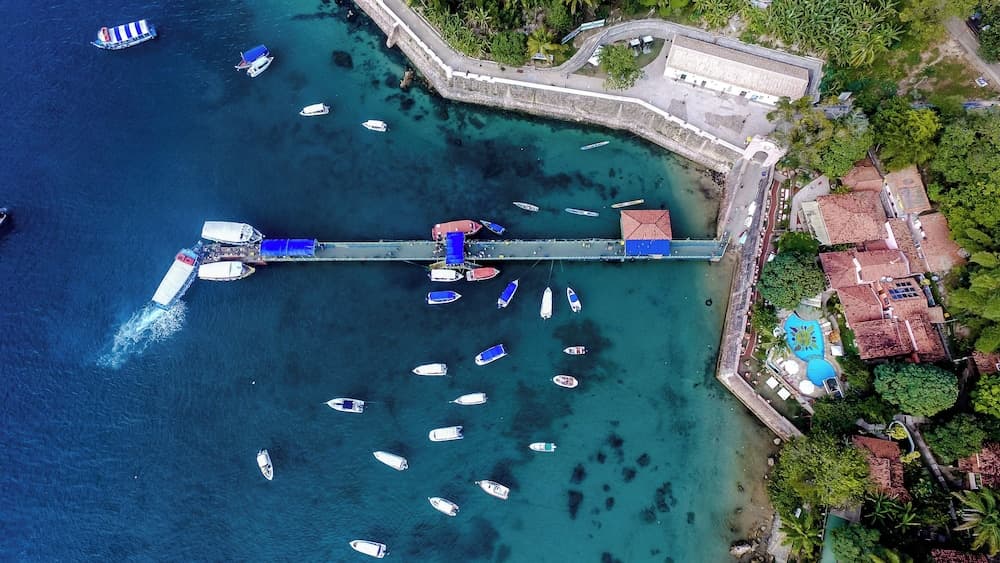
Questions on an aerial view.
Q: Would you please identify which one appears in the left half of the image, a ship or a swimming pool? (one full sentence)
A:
What appears in the left half of the image is a ship.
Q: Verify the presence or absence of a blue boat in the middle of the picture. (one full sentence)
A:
Yes, a blue boat appears in the middle of the picture.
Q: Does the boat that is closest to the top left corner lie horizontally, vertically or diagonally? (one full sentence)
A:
What the image shows is the boat that is closest to the top left corner lying horizontally.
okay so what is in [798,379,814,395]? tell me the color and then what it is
white umbrella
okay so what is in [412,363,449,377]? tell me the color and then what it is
white boat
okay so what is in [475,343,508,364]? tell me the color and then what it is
blue boat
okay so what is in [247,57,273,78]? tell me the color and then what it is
white boat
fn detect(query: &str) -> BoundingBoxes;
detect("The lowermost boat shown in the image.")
[350,541,390,558]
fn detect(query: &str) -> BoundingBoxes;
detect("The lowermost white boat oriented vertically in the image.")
[256,446,271,480]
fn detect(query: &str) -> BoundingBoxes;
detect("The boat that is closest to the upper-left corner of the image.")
[85,21,160,48]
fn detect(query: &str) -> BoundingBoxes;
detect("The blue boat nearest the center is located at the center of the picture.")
[495,279,520,310]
